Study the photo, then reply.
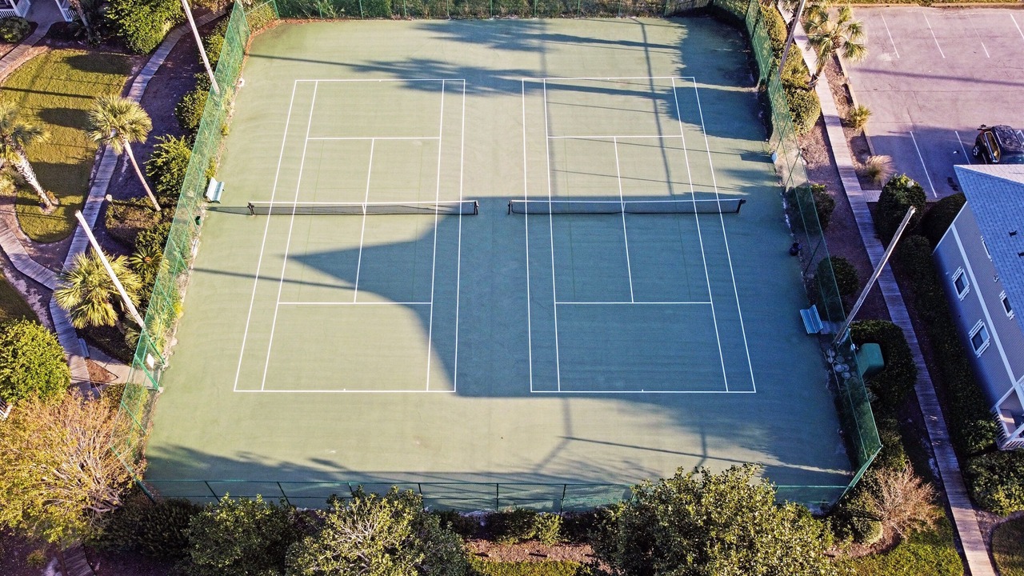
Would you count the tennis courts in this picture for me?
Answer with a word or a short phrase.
2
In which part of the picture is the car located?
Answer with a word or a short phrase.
top right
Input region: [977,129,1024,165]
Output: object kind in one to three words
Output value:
car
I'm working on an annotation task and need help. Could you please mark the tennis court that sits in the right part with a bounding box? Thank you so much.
[493,15,856,511]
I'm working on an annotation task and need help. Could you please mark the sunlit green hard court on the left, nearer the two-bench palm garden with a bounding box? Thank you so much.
[145,19,495,511]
